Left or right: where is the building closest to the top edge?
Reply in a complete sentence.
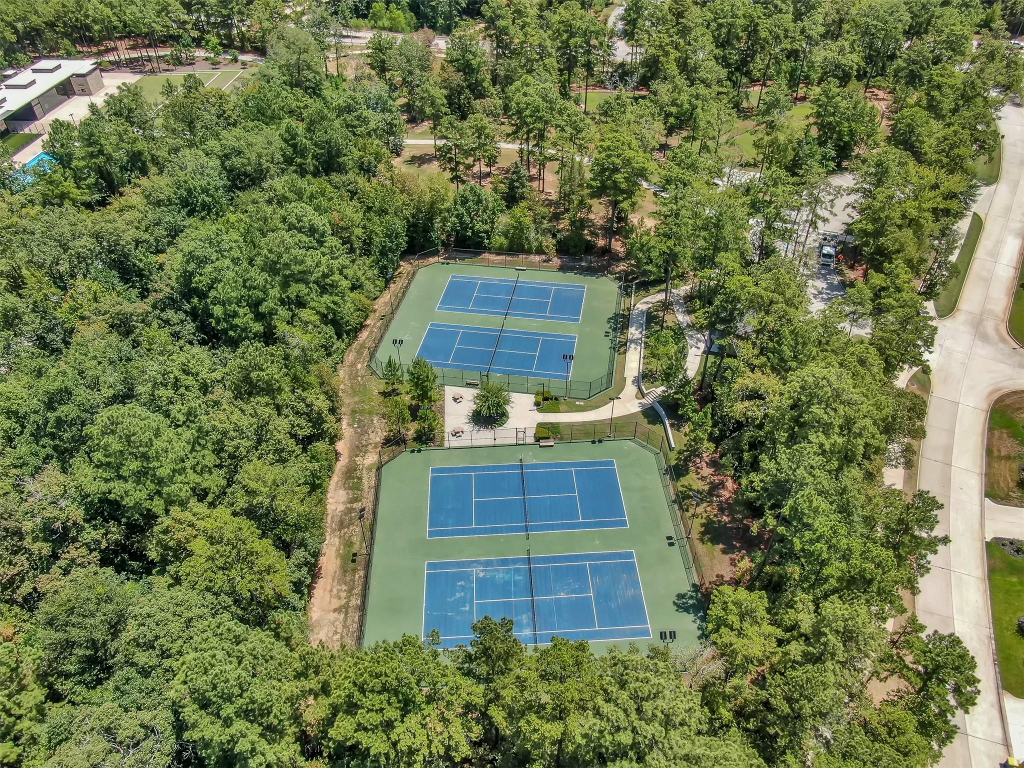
The building closest to the top edge appears in the left half of the scene.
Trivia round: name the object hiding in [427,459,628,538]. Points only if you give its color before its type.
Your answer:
blue tennis court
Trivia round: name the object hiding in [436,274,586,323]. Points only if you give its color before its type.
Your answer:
blue tennis court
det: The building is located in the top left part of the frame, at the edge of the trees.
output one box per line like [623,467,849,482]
[0,56,108,140]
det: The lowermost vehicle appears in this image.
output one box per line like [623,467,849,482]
[821,230,842,260]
